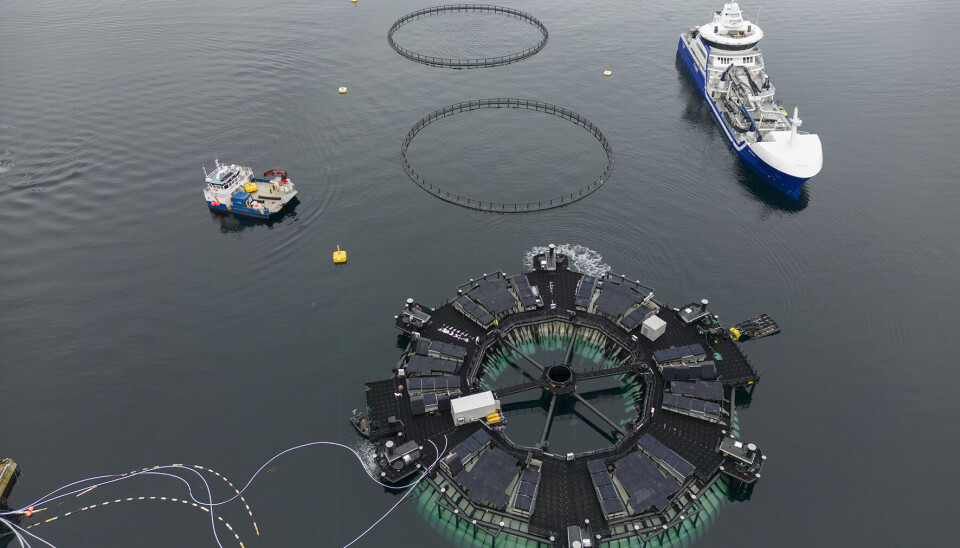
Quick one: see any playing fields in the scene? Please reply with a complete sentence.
No, no playing field is visible in the scene.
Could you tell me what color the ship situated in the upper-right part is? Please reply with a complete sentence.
The ship situated in the upper-right part is white.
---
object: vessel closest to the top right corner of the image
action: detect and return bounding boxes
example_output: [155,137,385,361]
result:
[677,0,820,209]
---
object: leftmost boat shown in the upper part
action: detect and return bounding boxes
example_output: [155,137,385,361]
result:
[203,154,297,220]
